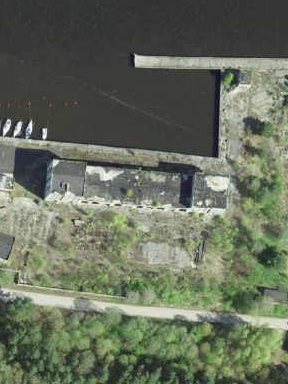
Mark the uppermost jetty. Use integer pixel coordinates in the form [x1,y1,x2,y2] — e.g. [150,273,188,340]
[133,53,288,71]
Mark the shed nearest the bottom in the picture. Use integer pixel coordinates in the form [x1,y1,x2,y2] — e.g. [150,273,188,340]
[262,289,287,304]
